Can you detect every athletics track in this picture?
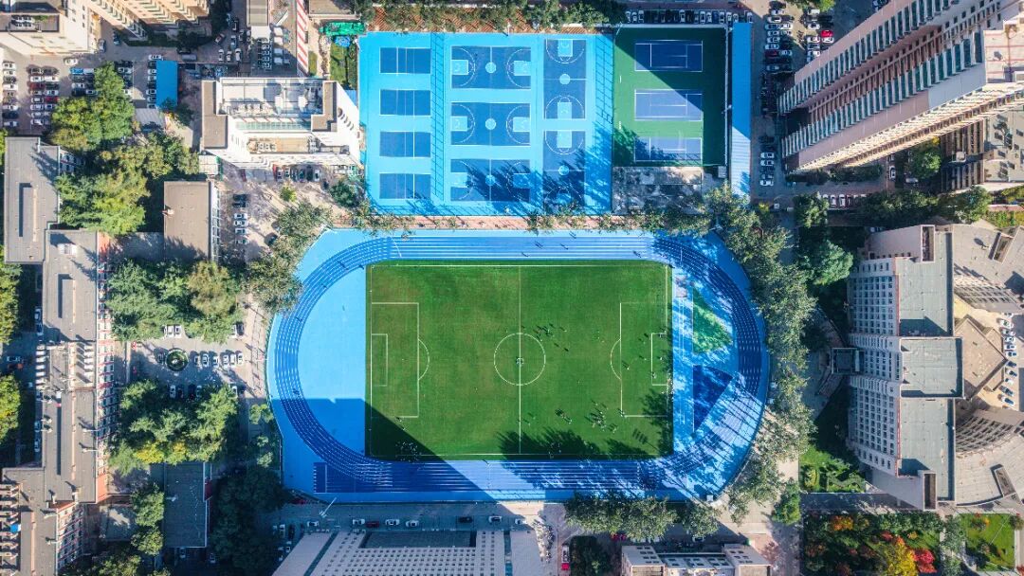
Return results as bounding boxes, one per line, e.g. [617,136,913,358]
[275,235,761,493]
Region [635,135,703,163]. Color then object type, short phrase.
blue tennis court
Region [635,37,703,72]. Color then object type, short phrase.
blue tennis court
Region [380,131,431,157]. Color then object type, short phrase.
blue sports court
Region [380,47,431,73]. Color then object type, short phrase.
blue sports court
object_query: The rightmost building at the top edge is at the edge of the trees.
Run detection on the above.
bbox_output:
[776,0,1024,184]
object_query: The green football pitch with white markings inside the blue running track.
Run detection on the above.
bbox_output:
[366,260,673,461]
